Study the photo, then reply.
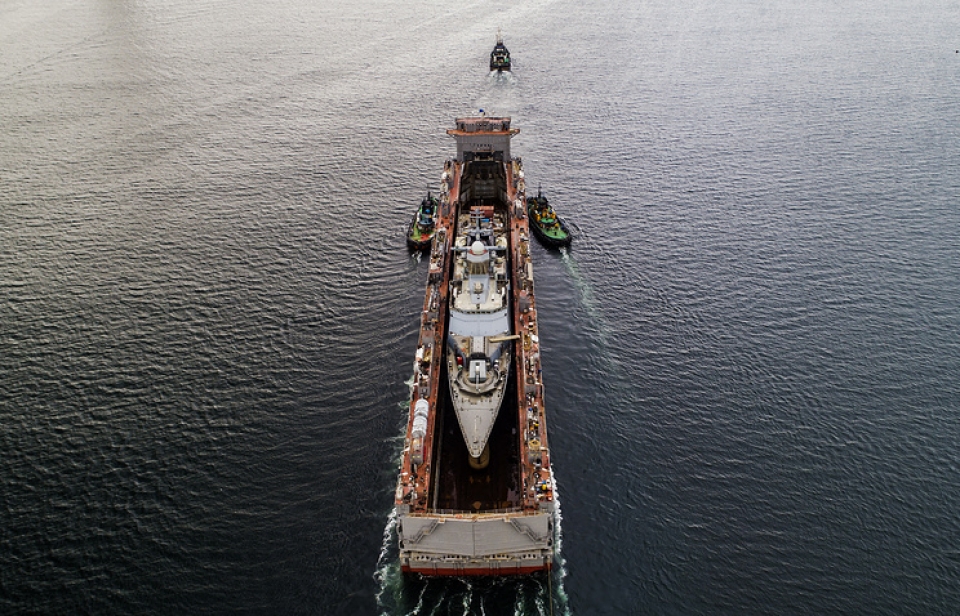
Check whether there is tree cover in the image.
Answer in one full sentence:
No, there's no tree cover in this view.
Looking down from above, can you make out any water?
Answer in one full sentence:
Yes, there is water in the image.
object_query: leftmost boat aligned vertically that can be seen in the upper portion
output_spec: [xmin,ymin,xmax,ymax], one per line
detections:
[406,178,437,250]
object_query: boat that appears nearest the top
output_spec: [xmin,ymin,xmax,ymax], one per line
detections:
[489,32,512,72]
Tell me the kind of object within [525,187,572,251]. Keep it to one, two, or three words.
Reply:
boat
